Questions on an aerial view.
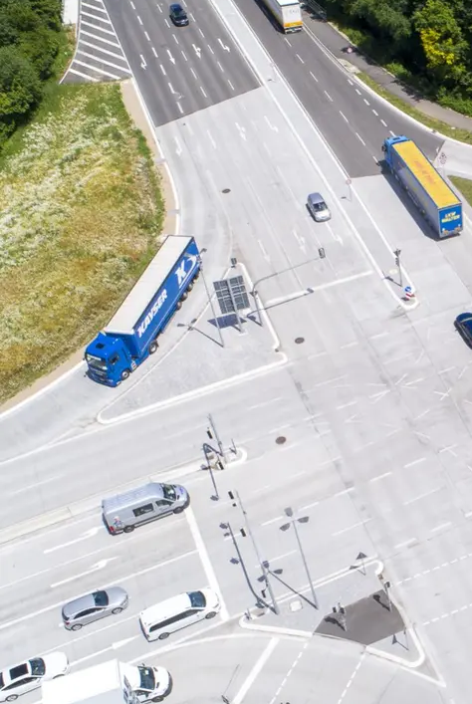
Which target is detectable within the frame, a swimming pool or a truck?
truck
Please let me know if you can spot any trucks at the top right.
Yes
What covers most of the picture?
paved ground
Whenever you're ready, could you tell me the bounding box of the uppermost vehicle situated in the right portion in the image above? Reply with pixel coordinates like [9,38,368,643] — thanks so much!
[264,0,304,32]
